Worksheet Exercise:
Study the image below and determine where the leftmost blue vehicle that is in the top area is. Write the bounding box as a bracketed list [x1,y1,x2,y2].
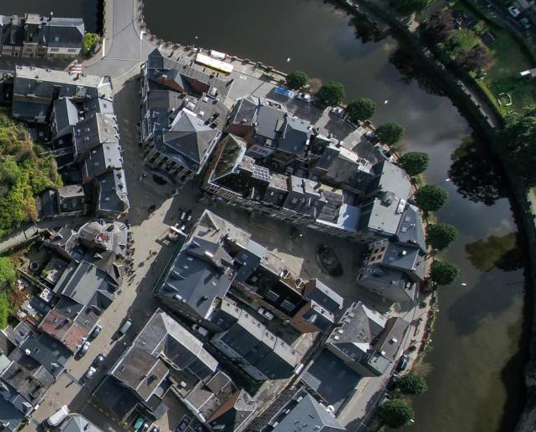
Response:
[274,82,294,99]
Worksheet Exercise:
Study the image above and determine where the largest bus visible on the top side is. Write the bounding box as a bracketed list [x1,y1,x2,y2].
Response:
[192,47,236,76]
